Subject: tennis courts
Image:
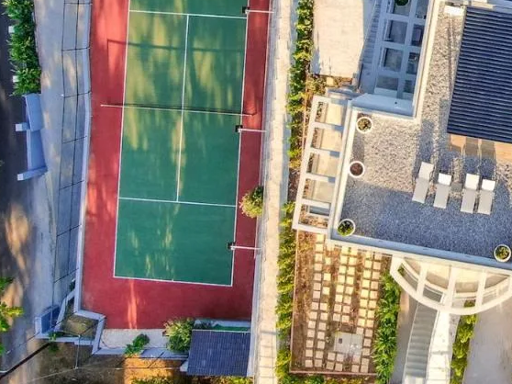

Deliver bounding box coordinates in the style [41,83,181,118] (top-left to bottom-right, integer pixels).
[84,0,272,331]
